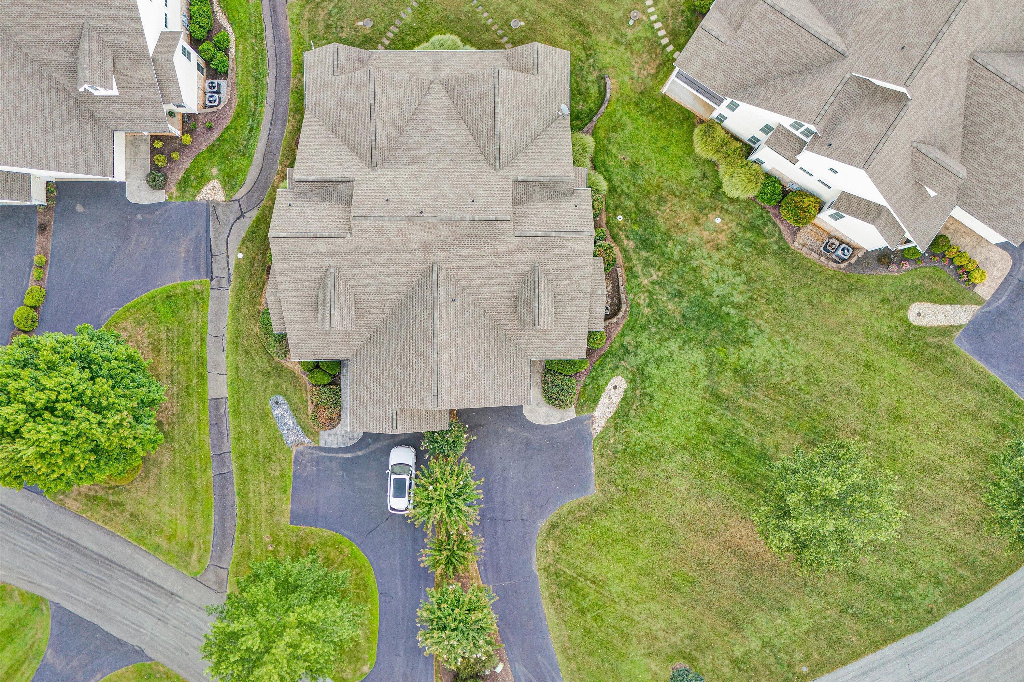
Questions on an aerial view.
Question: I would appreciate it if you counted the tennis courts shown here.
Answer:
none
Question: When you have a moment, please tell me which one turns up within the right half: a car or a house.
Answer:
house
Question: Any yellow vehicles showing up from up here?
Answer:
No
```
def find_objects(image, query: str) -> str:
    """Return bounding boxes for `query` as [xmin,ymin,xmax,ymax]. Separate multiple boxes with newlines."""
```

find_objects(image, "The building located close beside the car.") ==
[267,42,607,435]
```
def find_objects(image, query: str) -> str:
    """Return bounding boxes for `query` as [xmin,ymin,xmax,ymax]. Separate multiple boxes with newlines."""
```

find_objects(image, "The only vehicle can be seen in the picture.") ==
[385,445,419,514]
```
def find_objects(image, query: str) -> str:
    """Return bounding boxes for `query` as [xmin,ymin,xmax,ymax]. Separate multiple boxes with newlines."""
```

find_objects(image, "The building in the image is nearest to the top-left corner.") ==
[0,0,197,211]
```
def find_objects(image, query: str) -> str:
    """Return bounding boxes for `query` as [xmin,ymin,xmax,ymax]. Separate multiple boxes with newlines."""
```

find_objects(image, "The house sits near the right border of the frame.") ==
[662,0,1024,257]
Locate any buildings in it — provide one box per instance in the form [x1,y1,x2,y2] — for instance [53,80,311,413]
[267,42,607,435]
[0,0,197,211]
[662,0,1024,257]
